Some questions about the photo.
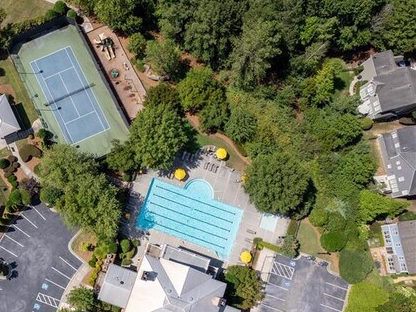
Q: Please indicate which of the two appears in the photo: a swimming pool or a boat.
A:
swimming pool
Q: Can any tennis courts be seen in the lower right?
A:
No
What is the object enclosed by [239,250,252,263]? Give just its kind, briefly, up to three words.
umbrella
